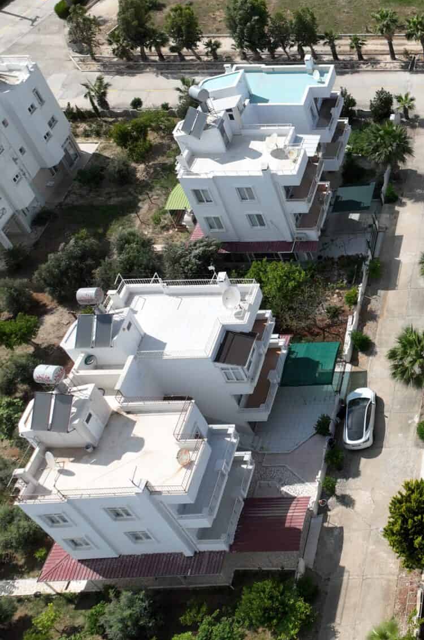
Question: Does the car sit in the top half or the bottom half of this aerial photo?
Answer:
bottom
